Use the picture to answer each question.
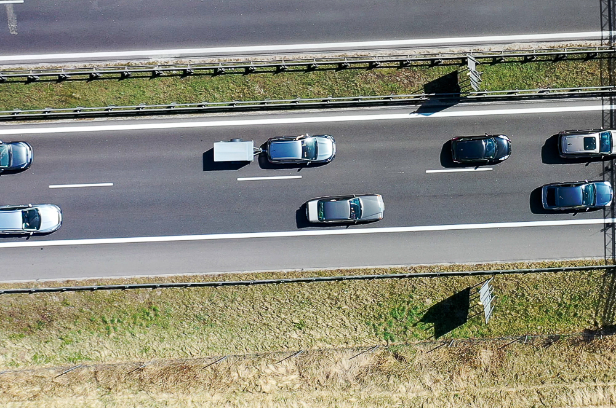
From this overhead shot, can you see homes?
No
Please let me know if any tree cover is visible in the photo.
No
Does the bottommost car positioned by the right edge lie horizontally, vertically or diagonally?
horizontally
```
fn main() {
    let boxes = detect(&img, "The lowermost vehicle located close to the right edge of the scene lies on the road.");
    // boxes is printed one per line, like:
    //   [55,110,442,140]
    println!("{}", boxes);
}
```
[541,177,614,212]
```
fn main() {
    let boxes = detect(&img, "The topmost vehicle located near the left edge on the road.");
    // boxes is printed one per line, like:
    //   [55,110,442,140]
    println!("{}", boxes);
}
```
[0,137,36,173]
